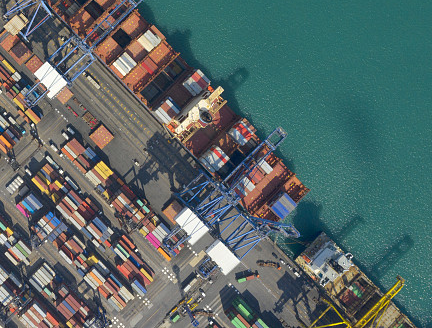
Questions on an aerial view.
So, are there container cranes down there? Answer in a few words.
Yes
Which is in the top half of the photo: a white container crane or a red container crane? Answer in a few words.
white container crane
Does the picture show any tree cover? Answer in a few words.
No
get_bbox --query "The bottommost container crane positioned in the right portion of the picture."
[293,276,410,328]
